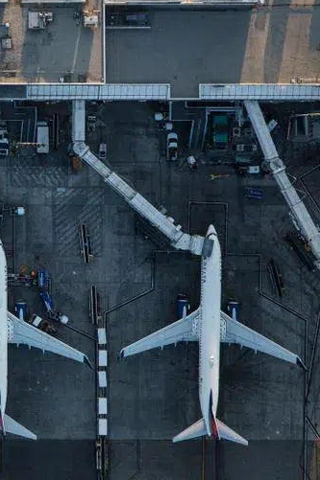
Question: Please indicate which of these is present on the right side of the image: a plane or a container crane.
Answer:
plane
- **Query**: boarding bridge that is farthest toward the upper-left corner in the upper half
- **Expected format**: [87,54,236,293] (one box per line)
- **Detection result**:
[69,101,211,255]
